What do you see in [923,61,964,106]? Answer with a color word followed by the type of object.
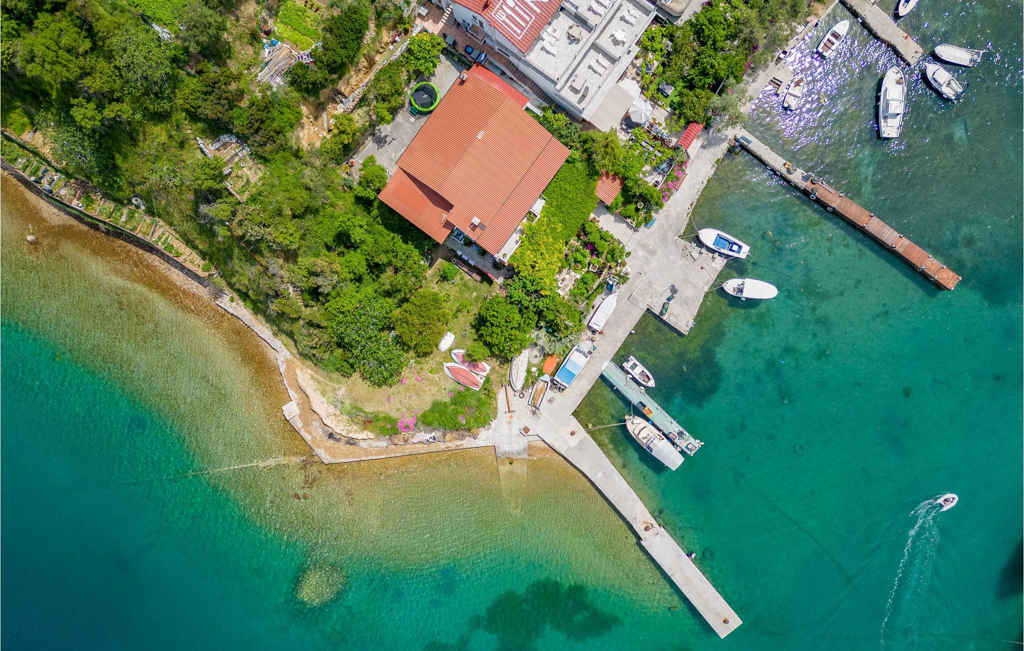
white boat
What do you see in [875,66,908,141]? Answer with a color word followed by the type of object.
white boat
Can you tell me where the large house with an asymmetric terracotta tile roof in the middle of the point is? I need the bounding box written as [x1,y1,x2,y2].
[380,64,570,265]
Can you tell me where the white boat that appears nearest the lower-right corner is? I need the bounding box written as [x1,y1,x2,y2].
[935,495,958,512]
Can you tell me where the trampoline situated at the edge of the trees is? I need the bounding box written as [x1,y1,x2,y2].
[407,74,440,115]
